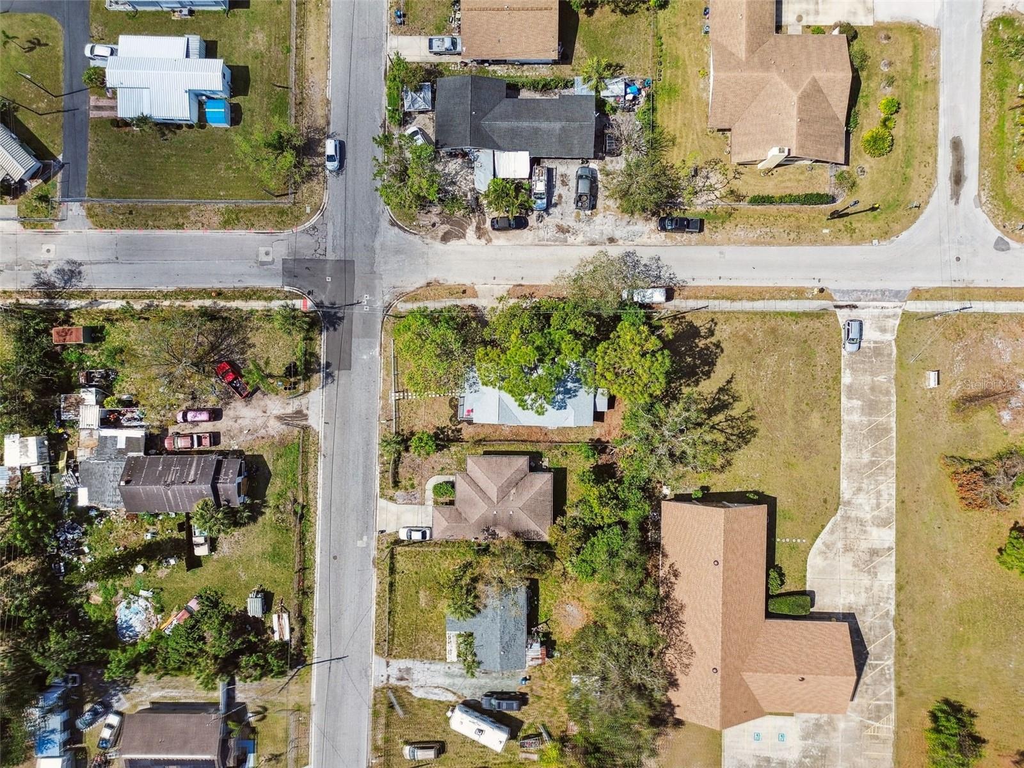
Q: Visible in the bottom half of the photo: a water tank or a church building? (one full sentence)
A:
The one visible in the bottom half of the photo is a church building.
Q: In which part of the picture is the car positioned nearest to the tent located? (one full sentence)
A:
The car positioned nearest to the tent appears toward the top of the photo.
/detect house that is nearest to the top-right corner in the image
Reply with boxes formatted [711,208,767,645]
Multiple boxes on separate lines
[707,0,854,173]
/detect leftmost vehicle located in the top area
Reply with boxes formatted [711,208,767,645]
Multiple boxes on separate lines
[84,43,118,61]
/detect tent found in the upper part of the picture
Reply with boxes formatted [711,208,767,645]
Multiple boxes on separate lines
[404,84,432,117]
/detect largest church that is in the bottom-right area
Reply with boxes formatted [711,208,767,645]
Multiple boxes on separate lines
[660,495,858,729]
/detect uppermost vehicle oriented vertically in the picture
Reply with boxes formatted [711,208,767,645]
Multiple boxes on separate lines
[324,138,340,172]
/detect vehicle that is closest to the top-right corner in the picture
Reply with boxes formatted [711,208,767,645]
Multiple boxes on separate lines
[843,319,861,352]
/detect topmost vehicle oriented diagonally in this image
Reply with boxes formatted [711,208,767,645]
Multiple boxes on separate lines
[407,122,434,155]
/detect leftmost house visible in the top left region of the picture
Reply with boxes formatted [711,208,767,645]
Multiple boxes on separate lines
[0,118,53,186]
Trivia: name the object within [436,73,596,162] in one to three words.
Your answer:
house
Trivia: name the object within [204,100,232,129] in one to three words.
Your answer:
shed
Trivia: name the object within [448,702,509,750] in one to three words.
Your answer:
trailer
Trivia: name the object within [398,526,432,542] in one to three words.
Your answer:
car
